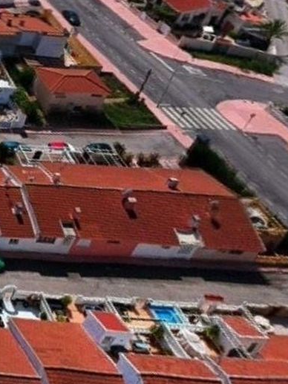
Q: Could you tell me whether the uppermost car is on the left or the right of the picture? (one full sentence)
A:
The uppermost car is on the left side of the image.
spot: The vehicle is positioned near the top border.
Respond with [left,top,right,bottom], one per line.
[59,6,82,26]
